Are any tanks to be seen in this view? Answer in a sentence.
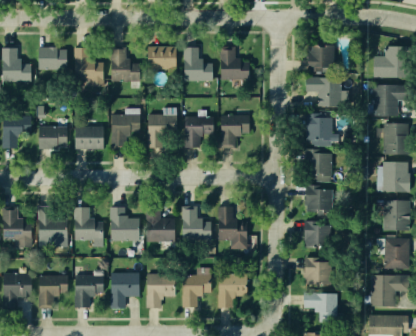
No, the picture doesn't show any tank.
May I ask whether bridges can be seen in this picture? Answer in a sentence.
No, I can't see a single bridge in this photo.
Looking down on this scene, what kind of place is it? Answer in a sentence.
This looks like a residential area.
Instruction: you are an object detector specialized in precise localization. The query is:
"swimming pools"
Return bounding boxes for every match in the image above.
[337,38,350,71]
[154,72,167,86]
[335,117,348,132]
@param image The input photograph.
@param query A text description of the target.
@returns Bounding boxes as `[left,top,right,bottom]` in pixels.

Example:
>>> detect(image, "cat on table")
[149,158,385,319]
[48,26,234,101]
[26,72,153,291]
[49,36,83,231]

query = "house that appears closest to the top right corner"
[374,46,409,78]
